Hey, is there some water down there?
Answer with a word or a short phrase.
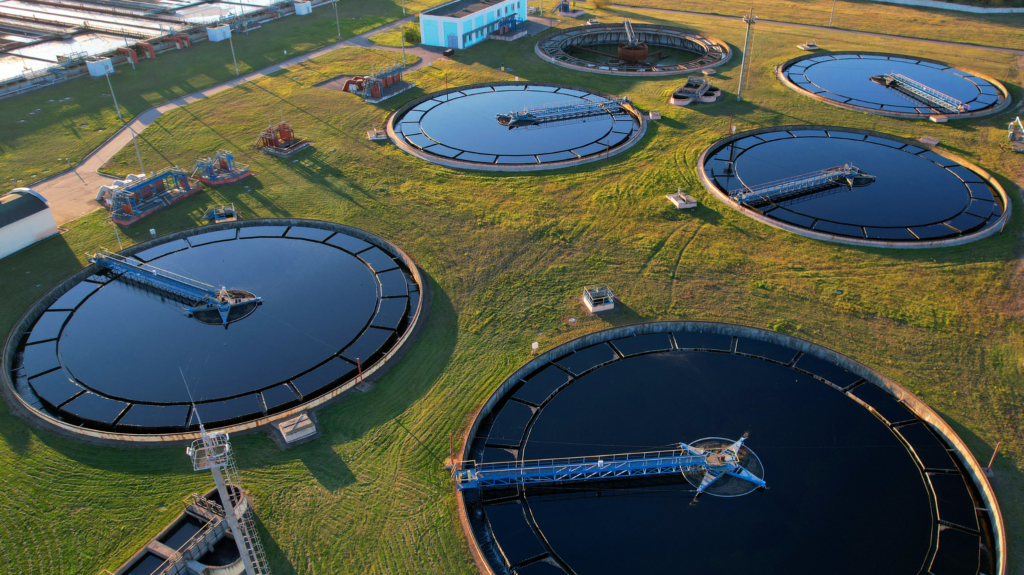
Yes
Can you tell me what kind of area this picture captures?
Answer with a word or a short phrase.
industrial area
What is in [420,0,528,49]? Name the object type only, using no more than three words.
building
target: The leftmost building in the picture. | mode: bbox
[0,182,62,262]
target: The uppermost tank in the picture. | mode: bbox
[533,22,734,78]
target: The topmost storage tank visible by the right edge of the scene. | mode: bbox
[774,51,1014,121]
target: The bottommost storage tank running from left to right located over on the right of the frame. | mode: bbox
[450,321,1015,575]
